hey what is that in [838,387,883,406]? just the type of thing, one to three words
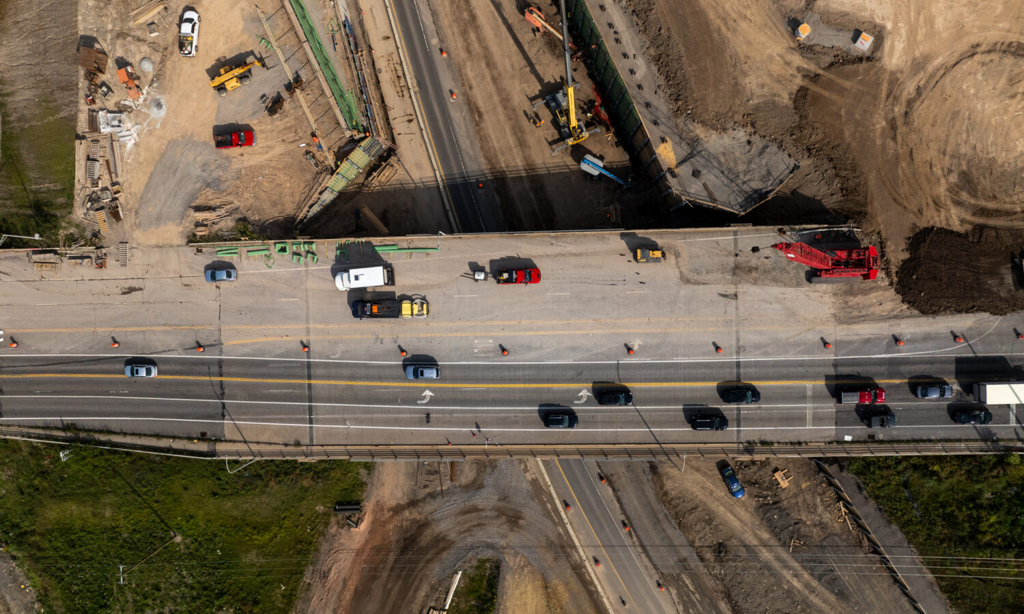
vehicle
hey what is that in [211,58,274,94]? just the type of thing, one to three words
work vehicle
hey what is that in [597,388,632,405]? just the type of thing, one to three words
car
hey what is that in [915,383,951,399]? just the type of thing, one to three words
car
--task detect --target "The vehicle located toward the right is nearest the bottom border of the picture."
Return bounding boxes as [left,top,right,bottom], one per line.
[720,464,742,498]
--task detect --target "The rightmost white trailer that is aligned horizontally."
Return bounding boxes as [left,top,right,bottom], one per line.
[968,382,1024,403]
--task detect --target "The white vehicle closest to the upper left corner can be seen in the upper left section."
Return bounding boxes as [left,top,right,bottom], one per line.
[180,10,201,58]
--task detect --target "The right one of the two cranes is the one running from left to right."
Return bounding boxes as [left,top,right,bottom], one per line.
[726,241,883,283]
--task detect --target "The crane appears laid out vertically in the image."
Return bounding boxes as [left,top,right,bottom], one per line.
[529,0,603,155]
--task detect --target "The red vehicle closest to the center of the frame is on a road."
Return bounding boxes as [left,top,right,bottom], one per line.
[497,268,542,286]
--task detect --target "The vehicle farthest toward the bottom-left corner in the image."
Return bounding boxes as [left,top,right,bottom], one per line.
[126,363,160,379]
